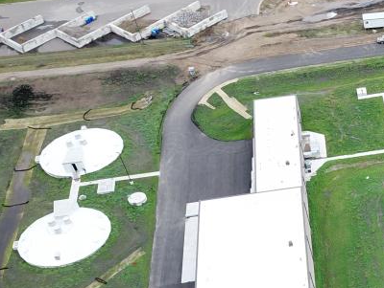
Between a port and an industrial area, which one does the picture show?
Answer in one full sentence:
It's an industrial area.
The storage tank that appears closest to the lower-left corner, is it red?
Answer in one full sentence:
No, the storage tank that appears closest to the lower-left corner is actually white.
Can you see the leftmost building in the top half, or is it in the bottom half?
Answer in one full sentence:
It is in the bottom half that the leftmost building appears.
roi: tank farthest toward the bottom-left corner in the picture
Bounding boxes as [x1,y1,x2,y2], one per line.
[10,195,112,271]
